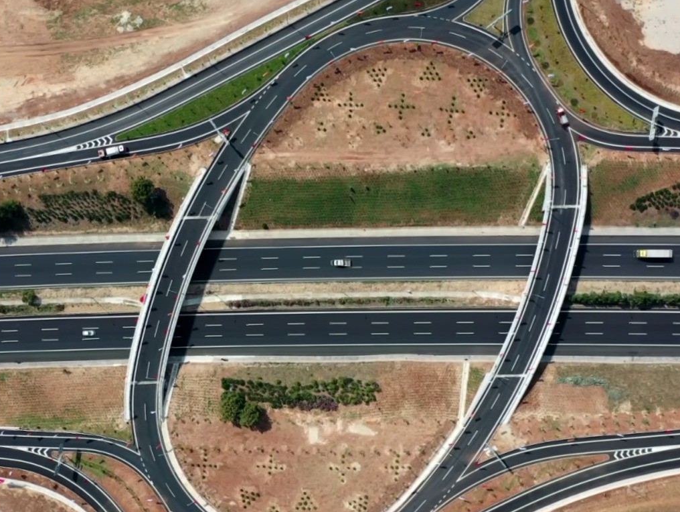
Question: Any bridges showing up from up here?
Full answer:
Yes, there is a bridge in the image.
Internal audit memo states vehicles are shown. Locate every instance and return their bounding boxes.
[98,146,126,158]
[554,107,568,127]
[334,260,352,266]
[83,330,95,336]
[632,249,673,259]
